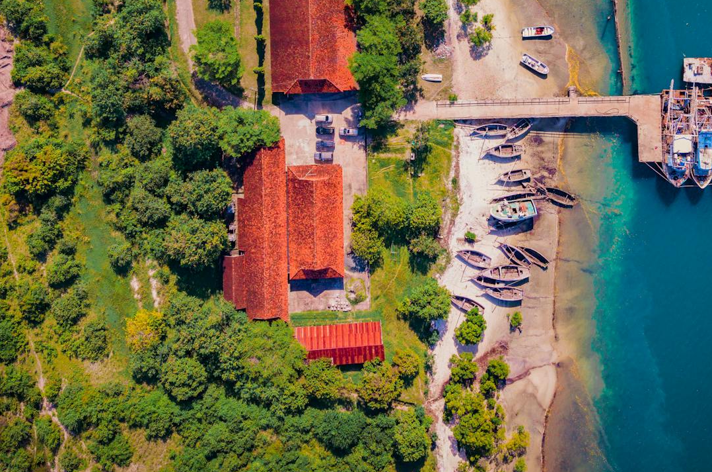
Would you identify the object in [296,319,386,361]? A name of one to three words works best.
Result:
shed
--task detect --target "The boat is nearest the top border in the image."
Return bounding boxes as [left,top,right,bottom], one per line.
[521,26,554,38]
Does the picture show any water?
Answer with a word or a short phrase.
Yes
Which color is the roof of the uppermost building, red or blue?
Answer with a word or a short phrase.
red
